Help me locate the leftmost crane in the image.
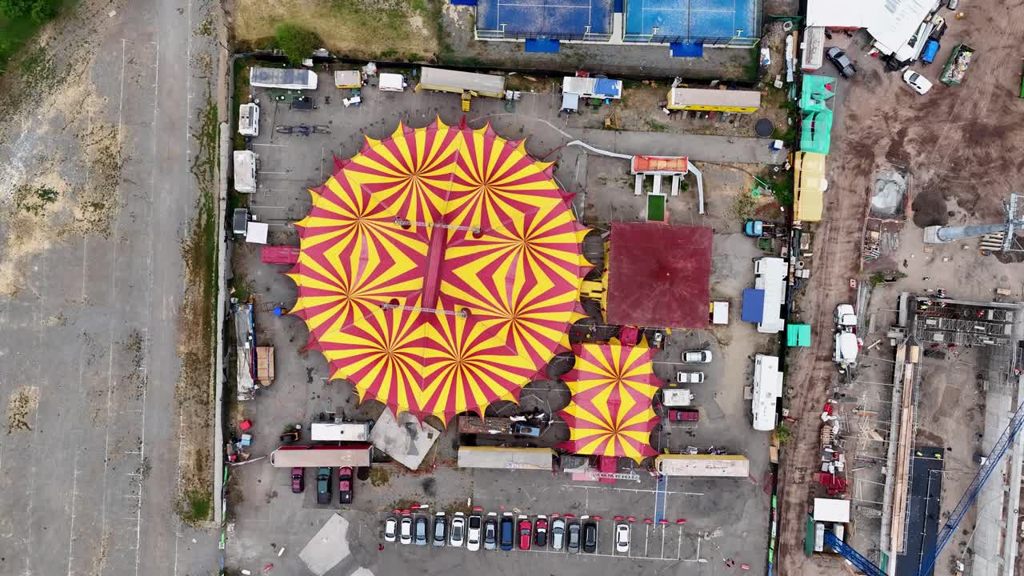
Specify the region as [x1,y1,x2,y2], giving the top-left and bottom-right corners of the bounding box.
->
[800,496,901,576]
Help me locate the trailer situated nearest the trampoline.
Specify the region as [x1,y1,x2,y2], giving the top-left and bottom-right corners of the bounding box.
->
[662,88,760,113]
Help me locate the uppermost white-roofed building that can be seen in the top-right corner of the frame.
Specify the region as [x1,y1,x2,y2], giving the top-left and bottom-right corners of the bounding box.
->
[806,0,940,62]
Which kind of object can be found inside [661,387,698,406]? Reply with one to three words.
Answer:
camper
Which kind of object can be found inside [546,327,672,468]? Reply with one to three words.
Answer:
tent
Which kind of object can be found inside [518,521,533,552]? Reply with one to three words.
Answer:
car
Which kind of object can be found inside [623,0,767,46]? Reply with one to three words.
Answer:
sports court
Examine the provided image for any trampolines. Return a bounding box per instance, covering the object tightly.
[755,118,775,137]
